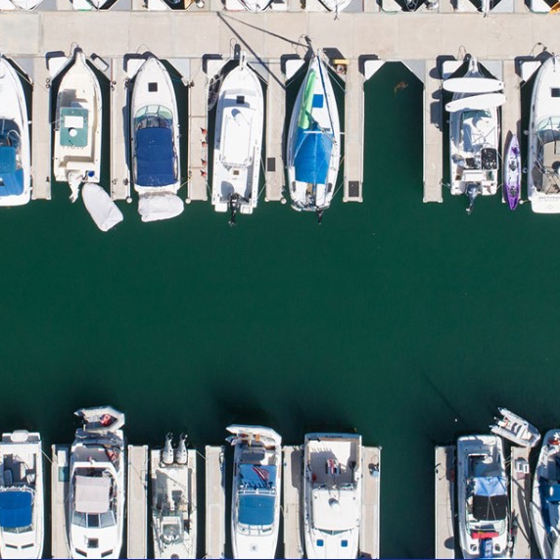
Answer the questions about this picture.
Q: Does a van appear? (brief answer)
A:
No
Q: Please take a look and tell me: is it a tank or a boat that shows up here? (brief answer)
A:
boat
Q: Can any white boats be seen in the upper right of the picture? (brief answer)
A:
Yes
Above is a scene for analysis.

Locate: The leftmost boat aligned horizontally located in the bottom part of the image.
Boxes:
[73,406,125,431]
